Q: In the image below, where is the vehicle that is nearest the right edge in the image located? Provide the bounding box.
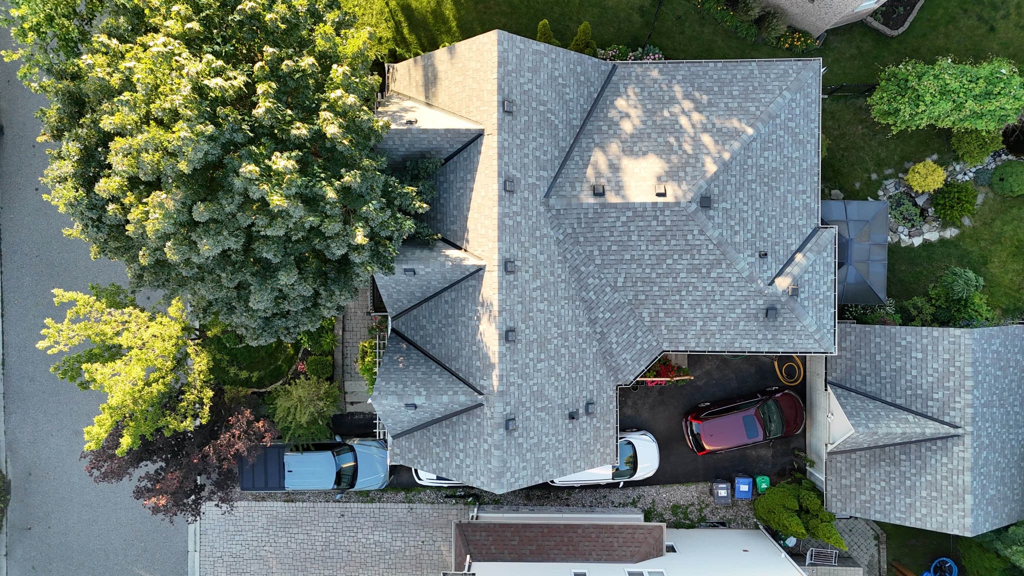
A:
[681,390,808,460]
